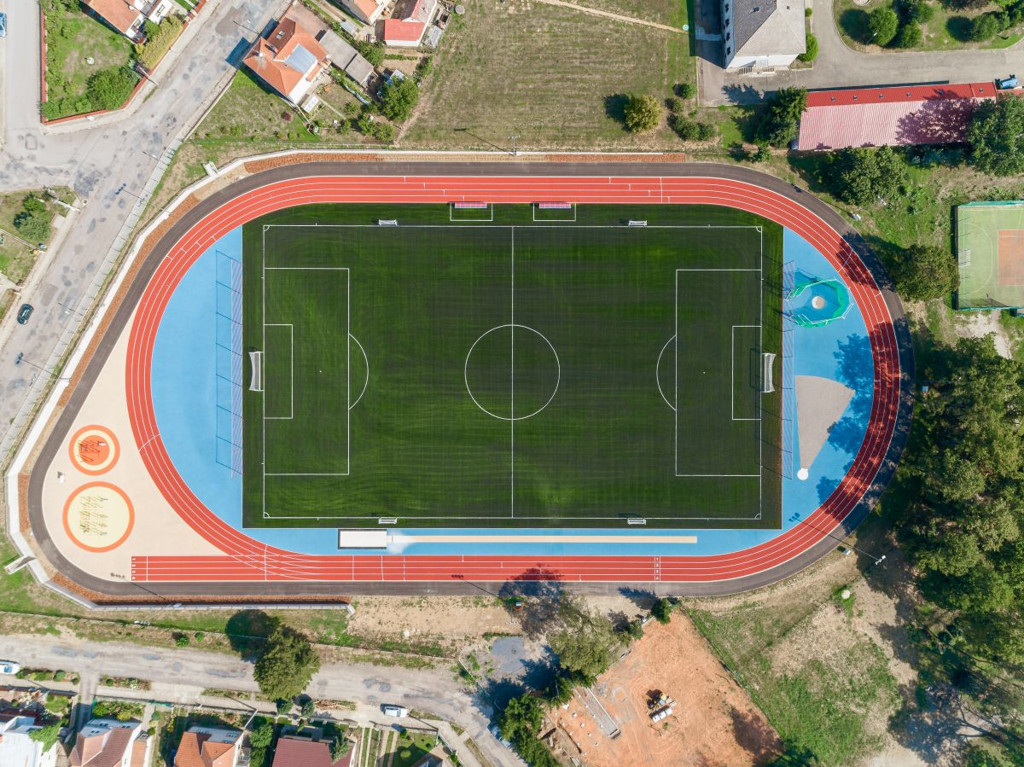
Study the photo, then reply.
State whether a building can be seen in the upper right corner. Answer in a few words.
Yes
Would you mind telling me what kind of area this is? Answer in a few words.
sports ground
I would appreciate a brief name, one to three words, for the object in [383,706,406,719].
vehicle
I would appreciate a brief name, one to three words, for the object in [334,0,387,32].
house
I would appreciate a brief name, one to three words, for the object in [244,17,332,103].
house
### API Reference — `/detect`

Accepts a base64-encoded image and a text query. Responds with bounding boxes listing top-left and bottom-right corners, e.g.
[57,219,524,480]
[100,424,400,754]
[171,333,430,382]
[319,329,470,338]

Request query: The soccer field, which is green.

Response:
[242,203,783,529]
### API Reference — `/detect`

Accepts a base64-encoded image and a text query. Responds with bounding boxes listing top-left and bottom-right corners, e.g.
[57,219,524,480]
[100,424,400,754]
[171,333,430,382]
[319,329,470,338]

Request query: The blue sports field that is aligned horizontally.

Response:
[151,225,874,555]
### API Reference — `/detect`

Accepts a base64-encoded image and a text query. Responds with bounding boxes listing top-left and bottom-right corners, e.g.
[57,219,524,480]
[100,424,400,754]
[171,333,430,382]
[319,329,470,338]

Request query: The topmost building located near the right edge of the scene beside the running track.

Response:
[793,82,1004,154]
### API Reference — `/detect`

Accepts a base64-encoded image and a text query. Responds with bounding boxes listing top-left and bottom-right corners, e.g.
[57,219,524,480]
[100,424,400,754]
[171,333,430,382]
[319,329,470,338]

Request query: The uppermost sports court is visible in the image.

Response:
[960,204,1024,307]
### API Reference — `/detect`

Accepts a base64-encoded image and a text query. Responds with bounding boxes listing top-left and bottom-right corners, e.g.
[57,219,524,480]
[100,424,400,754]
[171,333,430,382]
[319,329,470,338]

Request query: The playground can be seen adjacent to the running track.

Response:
[42,287,228,582]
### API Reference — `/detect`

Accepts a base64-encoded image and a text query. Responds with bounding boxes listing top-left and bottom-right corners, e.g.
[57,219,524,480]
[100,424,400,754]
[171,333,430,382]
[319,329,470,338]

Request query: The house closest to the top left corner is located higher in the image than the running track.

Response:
[84,0,149,43]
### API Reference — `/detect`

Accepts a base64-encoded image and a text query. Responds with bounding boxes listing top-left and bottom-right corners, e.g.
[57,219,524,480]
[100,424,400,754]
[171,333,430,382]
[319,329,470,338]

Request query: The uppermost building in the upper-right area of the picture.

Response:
[726,0,803,78]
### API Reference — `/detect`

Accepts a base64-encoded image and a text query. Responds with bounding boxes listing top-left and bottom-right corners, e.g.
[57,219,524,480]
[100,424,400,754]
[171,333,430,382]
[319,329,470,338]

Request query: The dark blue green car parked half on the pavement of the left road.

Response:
[14,303,31,325]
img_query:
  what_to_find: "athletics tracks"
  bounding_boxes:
[125,176,901,582]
